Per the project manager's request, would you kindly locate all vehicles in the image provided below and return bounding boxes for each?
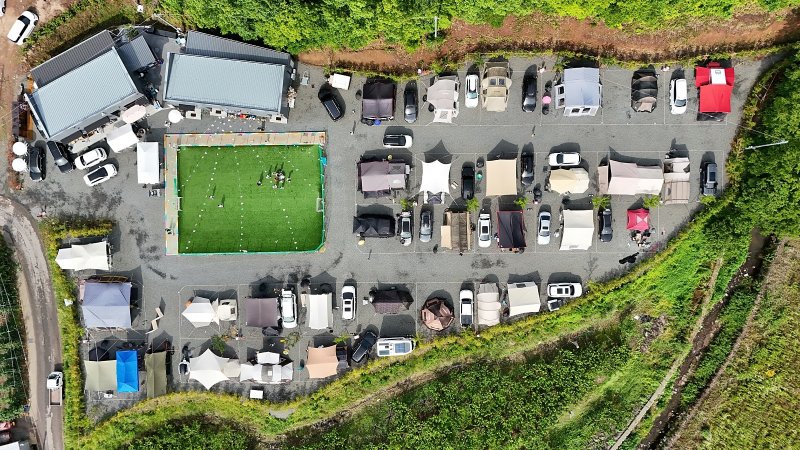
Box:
[5,9,36,42]
[397,212,413,245]
[419,209,434,241]
[669,78,688,115]
[75,148,111,170]
[459,290,475,327]
[403,89,418,123]
[461,166,477,199]
[597,209,613,243]
[319,91,345,124]
[84,164,120,186]
[281,290,298,328]
[352,329,377,364]
[44,370,64,405]
[341,285,357,318]
[382,133,414,148]
[548,151,581,167]
[27,148,47,182]
[464,74,480,109]
[547,282,581,298]
[536,211,552,245]
[520,152,536,185]
[48,140,76,174]
[477,213,492,247]
[522,78,538,112]
[700,162,719,195]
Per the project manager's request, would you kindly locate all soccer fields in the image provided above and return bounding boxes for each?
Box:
[165,132,326,255]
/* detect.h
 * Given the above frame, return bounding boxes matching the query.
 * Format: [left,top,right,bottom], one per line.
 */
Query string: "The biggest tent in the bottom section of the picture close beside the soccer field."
[76,275,143,335]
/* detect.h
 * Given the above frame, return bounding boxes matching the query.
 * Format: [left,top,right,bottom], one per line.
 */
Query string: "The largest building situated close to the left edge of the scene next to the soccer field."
[28,30,151,141]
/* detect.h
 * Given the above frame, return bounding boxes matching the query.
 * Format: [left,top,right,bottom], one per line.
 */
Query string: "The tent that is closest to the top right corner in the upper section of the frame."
[690,63,741,121]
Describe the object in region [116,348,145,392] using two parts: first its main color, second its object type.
blue gazebo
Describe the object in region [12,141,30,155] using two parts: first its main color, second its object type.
white umbrella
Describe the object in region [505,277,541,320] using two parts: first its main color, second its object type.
white tent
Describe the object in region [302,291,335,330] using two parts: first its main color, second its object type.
white tent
